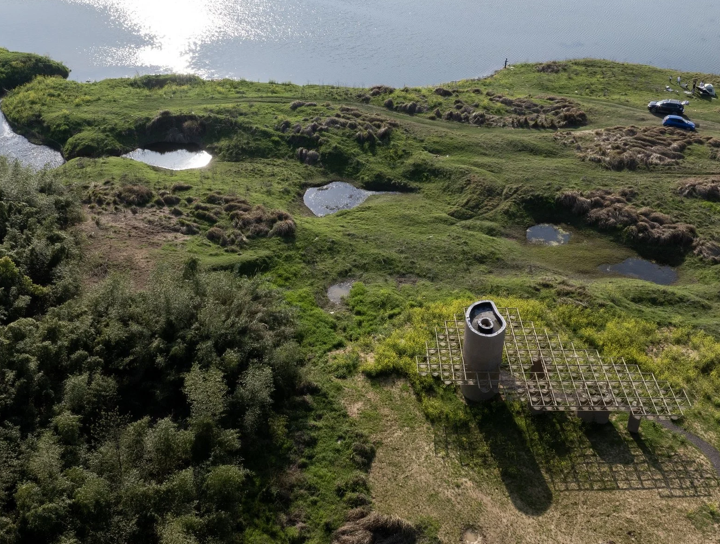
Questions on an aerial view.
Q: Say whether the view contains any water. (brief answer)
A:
Yes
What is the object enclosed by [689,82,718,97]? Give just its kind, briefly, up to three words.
tent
